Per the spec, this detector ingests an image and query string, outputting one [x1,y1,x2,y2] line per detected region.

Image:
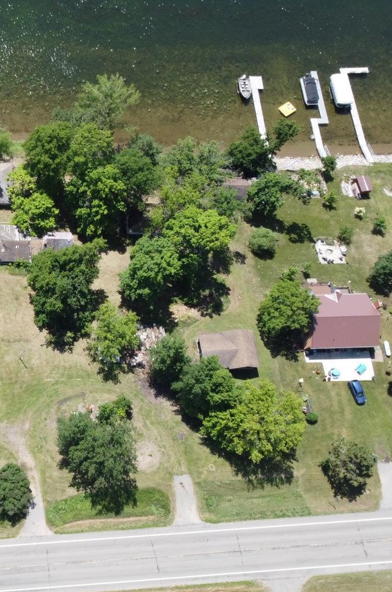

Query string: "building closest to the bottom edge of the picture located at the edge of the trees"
[195,330,259,373]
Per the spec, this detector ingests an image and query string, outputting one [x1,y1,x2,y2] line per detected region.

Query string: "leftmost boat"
[240,74,252,100]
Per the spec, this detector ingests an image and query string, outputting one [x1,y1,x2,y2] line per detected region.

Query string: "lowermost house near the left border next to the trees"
[0,225,76,268]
